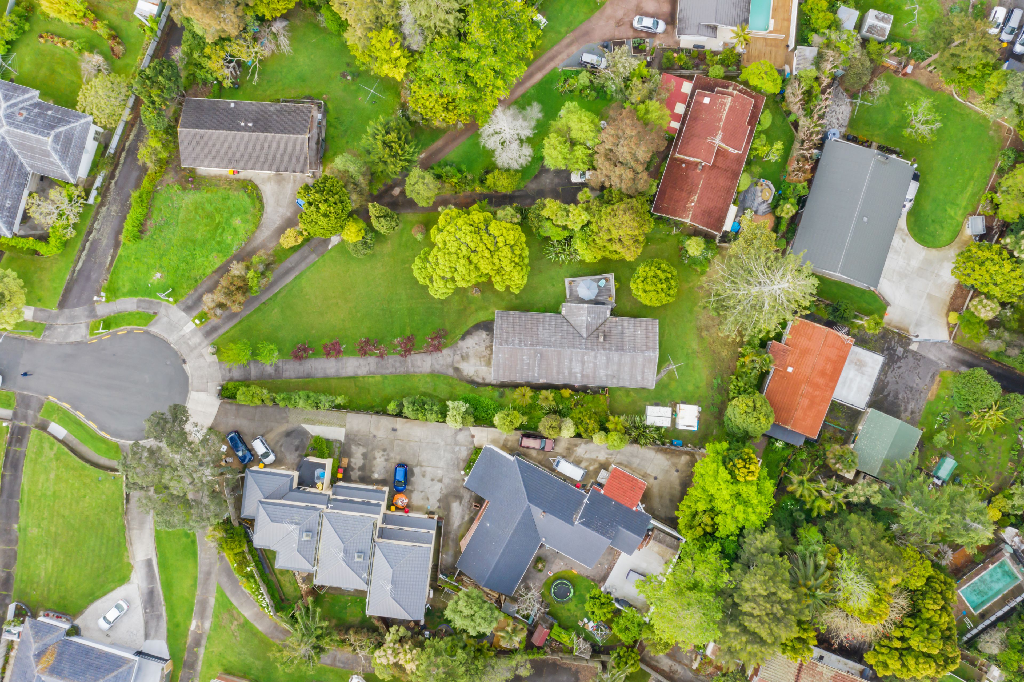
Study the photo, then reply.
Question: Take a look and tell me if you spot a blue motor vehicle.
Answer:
Yes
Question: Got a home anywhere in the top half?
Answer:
Yes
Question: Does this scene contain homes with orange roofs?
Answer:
Yes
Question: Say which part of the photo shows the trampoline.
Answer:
bottom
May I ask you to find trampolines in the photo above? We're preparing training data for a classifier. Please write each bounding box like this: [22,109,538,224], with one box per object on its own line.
[551,582,575,607]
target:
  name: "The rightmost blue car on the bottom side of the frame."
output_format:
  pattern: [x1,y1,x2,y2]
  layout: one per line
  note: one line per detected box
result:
[392,464,407,493]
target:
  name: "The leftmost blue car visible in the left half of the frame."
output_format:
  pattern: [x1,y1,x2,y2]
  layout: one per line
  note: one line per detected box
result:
[225,431,250,465]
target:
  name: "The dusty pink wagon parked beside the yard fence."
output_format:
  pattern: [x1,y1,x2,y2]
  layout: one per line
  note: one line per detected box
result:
[520,436,555,452]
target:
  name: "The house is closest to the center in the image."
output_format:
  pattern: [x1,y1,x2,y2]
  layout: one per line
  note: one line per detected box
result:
[492,303,659,389]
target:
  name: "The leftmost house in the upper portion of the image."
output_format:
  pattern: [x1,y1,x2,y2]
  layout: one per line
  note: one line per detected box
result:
[0,78,104,239]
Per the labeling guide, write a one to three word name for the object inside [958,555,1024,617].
swimming pool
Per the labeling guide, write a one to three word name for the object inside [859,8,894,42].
shed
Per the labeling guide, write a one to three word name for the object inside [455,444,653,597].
house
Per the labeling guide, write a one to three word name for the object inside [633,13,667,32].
car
